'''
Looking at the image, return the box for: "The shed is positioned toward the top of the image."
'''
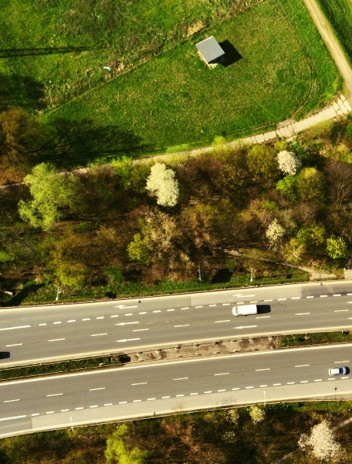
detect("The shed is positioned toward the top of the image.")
[195,37,228,72]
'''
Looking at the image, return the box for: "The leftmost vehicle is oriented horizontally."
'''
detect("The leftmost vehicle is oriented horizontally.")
[233,303,259,316]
